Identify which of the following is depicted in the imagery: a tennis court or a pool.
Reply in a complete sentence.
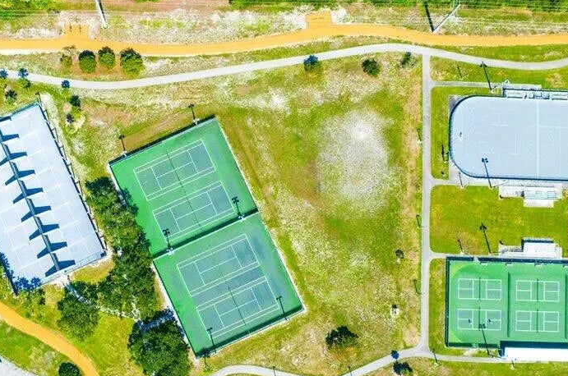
The one in the frame is a tennis court.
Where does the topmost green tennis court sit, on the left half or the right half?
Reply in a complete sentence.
You can find the topmost green tennis court on the left side of the picture.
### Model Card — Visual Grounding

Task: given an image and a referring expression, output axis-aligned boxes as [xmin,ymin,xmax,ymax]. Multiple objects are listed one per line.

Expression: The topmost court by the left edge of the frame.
[0,105,46,141]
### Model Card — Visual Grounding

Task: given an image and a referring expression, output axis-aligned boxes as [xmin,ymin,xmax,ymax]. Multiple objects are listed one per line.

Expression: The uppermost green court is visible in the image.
[110,118,237,211]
